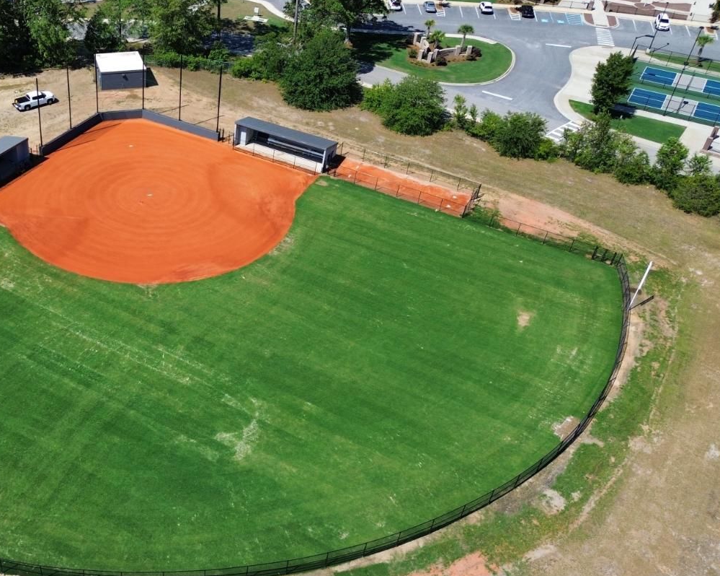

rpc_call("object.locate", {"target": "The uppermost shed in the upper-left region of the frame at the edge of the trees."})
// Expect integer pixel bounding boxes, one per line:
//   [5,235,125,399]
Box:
[94,51,148,90]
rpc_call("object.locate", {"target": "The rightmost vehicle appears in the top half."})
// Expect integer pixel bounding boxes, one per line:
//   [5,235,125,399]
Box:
[655,13,672,30]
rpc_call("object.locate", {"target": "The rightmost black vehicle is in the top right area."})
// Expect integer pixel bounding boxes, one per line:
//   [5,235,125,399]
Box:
[520,2,536,18]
